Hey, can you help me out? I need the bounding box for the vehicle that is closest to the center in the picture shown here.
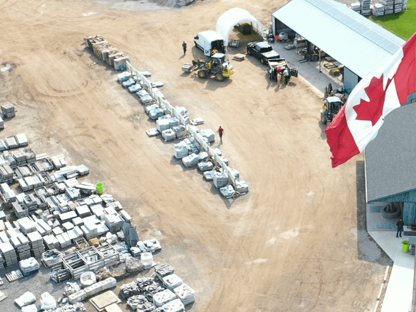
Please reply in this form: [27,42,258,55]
[191,56,234,79]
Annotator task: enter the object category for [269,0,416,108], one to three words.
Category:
shed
